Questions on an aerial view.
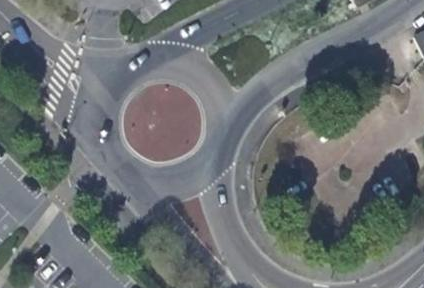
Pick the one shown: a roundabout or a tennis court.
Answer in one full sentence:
The one in the frame is a roundabout.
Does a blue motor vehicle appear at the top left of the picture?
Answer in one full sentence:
Yes, at the top left of the picture there is a blue motor vehicle.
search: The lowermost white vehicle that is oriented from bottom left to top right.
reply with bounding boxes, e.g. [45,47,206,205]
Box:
[39,262,58,282]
